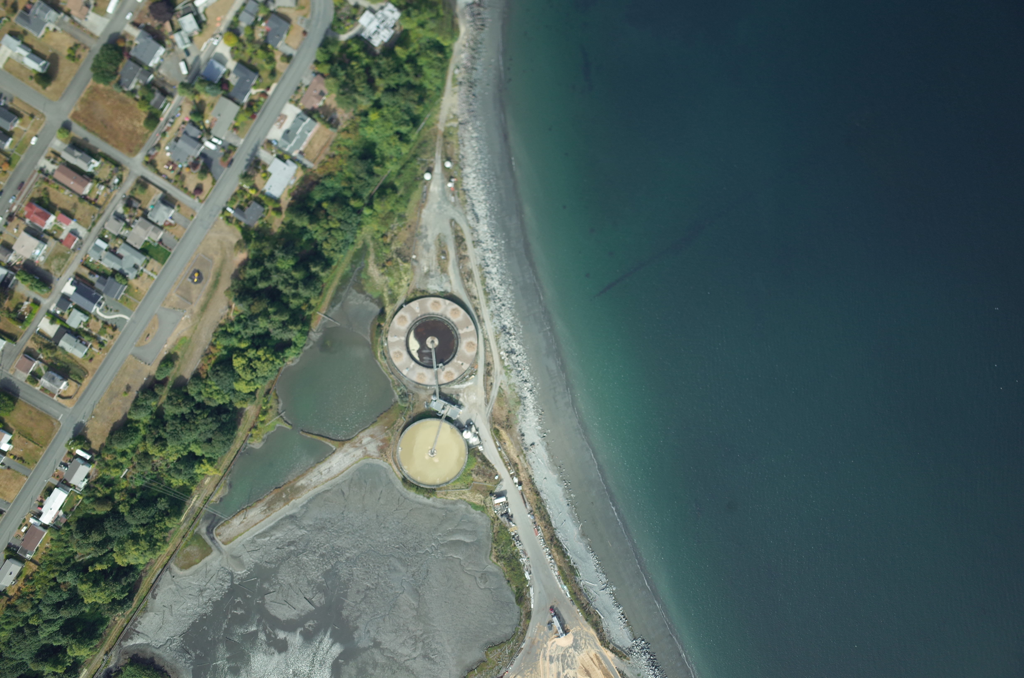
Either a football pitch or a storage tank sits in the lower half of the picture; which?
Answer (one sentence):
There is a storage tank in the lower half of the picture.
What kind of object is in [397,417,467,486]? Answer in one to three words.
storage tank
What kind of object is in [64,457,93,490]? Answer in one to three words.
house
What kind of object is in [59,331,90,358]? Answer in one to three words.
house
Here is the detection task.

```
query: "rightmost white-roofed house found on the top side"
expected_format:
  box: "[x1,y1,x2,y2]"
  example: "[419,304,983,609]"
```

[358,4,394,48]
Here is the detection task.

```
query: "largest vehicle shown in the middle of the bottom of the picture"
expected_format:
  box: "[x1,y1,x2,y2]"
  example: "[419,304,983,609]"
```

[549,607,565,638]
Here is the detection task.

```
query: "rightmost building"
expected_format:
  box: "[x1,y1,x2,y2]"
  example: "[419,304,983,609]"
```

[430,400,463,420]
